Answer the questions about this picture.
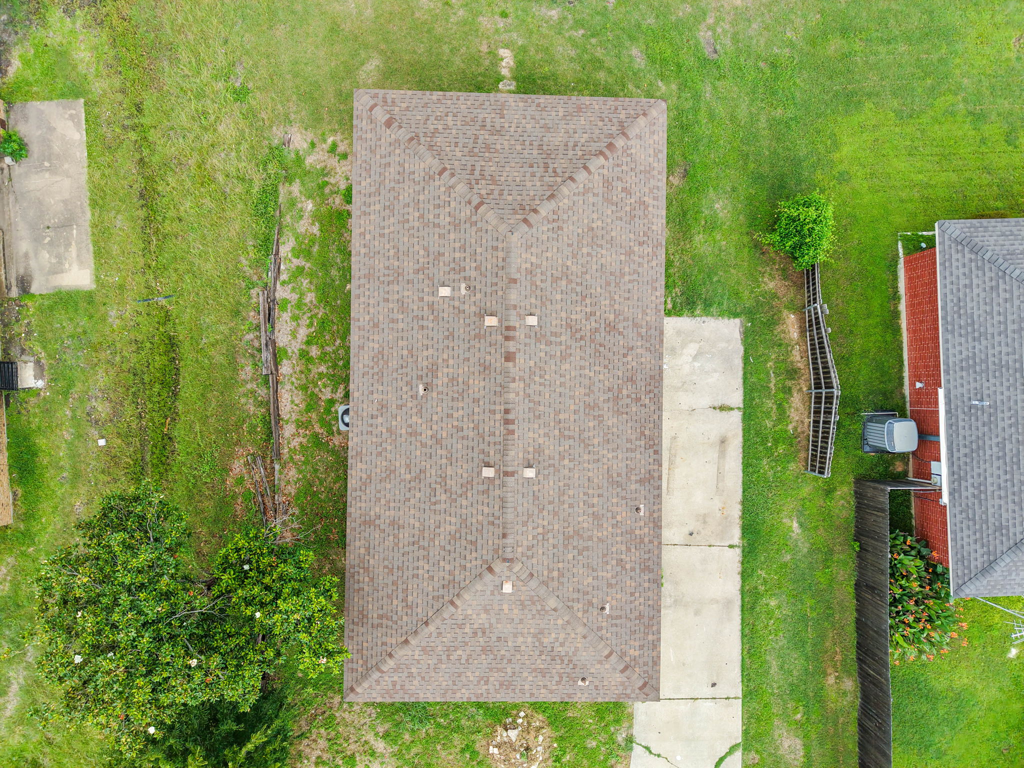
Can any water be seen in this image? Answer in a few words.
No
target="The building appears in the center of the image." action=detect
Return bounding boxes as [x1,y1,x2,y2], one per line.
[342,88,668,703]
